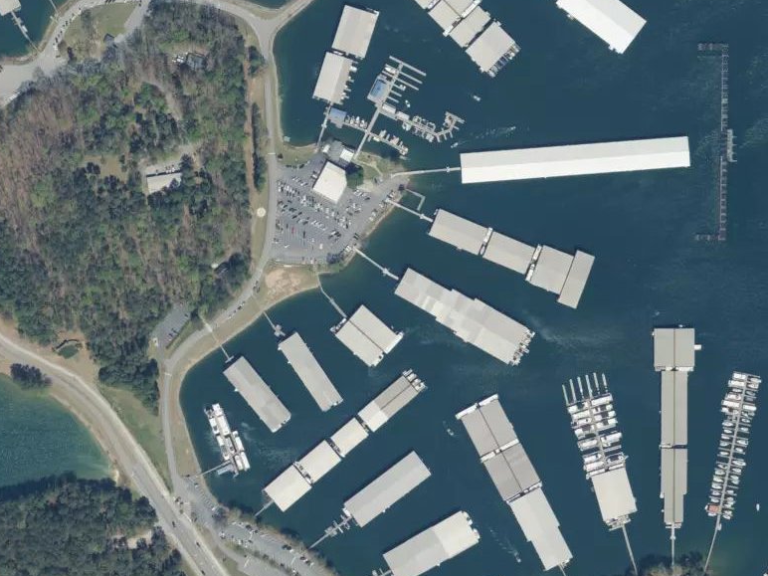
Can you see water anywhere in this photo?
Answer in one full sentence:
Yes, water can be seen from above here.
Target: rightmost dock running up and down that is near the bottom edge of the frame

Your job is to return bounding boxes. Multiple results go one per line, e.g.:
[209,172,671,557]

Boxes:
[704,371,760,573]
